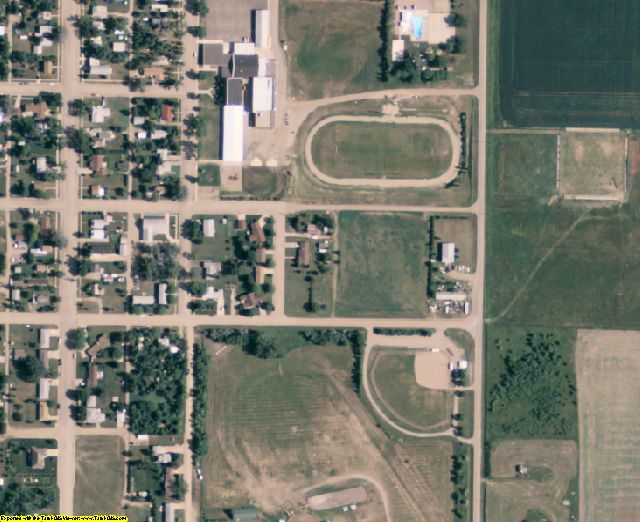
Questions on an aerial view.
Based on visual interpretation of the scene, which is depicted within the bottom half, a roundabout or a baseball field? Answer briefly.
baseball field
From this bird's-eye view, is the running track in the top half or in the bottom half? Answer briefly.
top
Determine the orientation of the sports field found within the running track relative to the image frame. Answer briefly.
from side to side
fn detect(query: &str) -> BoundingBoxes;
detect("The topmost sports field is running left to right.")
[312,122,455,180]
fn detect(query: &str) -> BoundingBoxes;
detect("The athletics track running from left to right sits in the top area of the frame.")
[305,115,462,188]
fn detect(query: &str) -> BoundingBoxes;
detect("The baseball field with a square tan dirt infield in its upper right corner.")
[372,349,453,429]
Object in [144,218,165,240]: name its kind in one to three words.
building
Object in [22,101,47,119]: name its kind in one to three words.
house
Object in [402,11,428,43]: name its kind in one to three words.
swimming pool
